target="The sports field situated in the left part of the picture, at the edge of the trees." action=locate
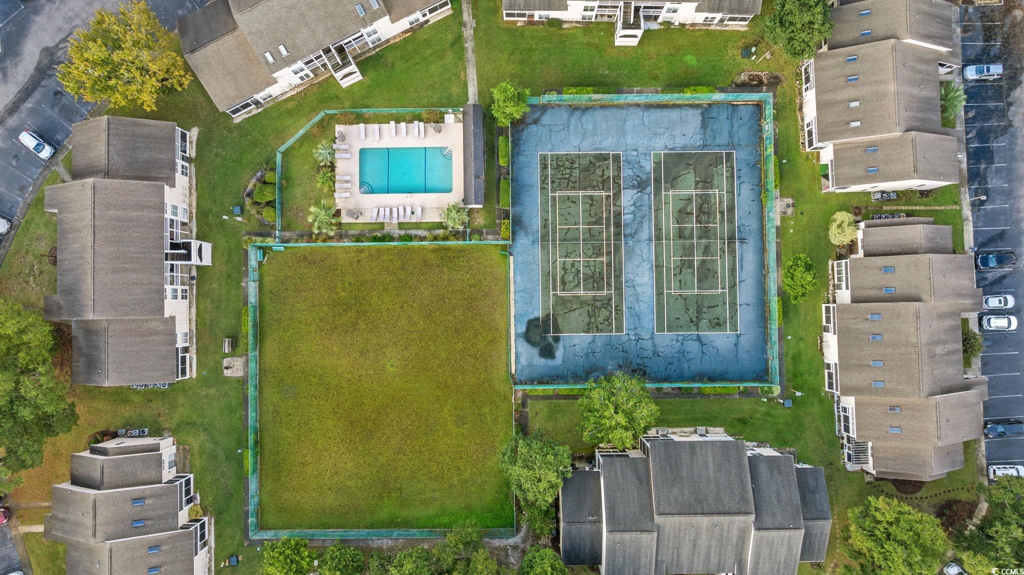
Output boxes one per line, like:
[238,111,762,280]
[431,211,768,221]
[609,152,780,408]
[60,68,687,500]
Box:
[258,245,514,529]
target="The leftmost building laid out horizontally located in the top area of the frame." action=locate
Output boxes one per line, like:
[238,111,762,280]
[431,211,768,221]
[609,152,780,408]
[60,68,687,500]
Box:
[173,0,451,118]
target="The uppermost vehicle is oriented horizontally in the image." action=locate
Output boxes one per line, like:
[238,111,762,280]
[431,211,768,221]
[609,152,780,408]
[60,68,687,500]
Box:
[966,61,1010,80]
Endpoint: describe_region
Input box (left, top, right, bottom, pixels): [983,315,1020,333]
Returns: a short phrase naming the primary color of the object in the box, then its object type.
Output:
white car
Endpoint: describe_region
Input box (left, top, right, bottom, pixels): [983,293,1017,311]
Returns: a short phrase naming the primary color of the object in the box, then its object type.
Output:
white car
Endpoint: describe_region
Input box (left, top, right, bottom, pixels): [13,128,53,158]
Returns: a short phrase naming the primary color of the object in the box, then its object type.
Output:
white vehicle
